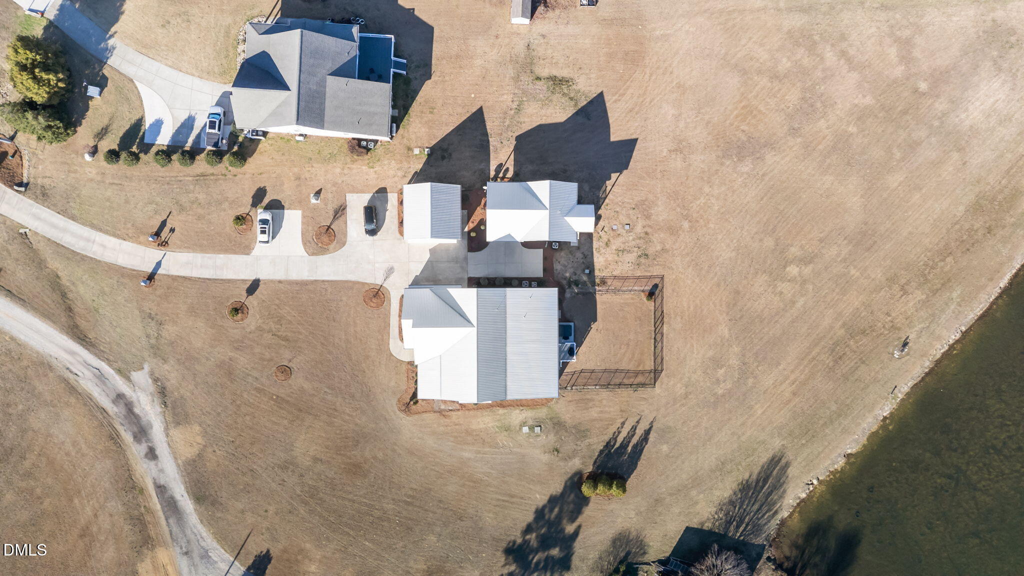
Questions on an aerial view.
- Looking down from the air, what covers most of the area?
grass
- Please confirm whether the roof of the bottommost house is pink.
No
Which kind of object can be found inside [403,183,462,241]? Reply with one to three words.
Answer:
building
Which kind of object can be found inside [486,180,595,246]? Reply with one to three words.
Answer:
house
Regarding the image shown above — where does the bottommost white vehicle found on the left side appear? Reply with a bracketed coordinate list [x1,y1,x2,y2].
[257,211,275,244]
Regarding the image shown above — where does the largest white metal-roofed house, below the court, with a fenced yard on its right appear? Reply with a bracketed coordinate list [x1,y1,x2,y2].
[401,284,576,403]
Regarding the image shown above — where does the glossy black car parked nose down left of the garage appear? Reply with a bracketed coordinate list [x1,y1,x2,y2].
[363,206,379,237]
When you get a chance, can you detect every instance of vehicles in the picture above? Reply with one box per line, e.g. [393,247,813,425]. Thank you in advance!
[257,211,275,244]
[206,107,225,149]
[363,206,379,237]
